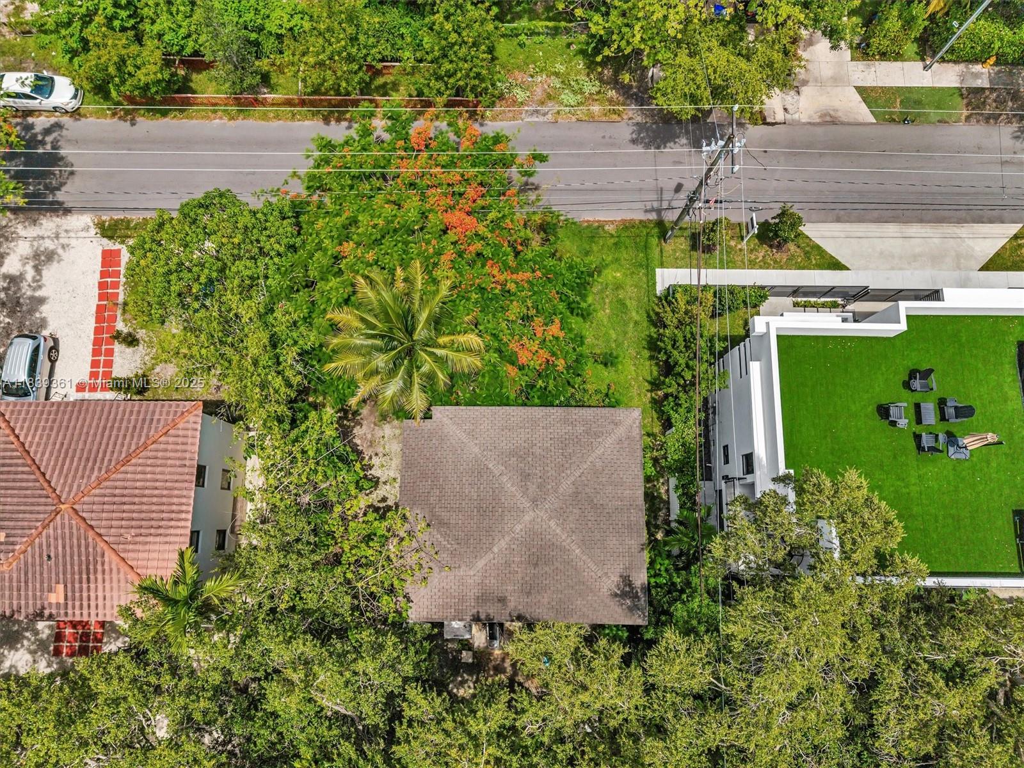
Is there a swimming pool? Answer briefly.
No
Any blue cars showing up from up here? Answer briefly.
No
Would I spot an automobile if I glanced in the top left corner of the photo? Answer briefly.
Yes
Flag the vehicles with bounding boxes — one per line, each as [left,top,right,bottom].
[0,335,60,399]
[0,67,88,115]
